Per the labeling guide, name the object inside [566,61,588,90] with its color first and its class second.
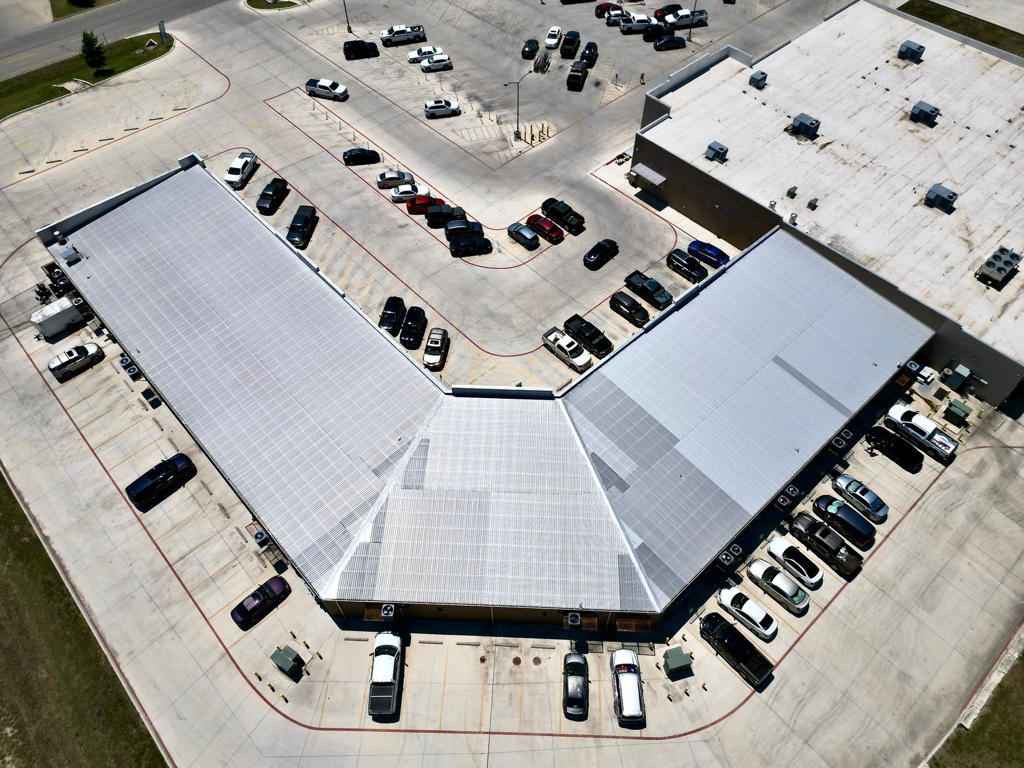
black truck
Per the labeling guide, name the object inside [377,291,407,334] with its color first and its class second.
black car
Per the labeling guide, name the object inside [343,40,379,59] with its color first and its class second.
black car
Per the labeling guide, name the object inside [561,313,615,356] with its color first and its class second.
black truck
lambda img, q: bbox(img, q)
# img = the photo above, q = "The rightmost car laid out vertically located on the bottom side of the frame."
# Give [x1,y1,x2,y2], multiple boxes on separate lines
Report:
[611,649,645,722]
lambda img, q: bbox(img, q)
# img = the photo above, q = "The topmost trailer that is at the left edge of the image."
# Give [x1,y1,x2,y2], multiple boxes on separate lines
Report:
[31,293,85,329]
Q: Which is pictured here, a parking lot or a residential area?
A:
parking lot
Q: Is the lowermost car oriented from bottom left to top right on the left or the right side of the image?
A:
left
